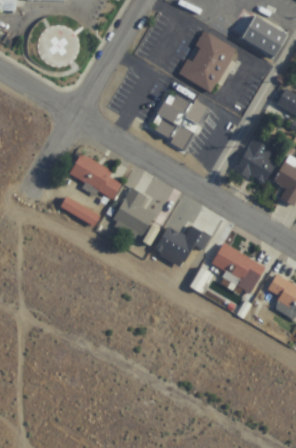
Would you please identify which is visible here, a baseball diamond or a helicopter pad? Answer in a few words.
helicopter pad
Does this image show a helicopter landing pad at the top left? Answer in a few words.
Yes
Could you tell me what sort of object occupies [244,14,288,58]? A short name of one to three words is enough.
building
